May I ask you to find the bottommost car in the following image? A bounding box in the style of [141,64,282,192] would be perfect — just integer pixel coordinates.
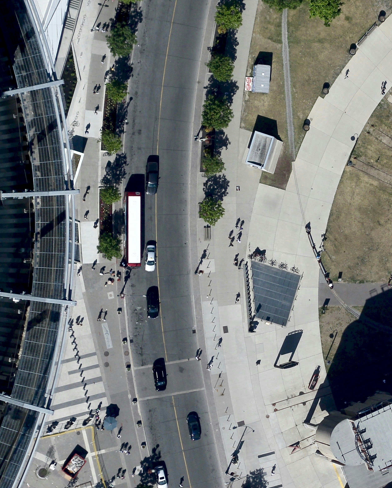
[154,465,168,488]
